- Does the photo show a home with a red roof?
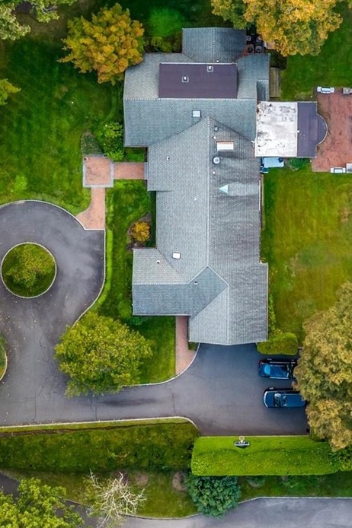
No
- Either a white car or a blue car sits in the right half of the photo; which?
blue car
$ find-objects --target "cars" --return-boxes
[263,388,304,410]
[257,357,300,379]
